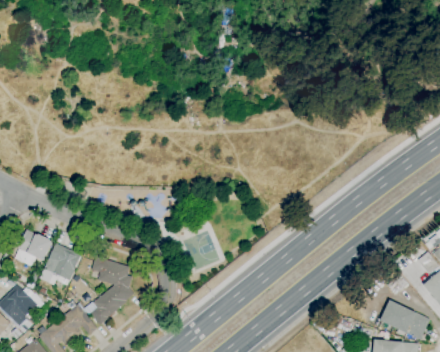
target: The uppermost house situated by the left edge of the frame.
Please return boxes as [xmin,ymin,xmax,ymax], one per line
[20,230,50,262]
